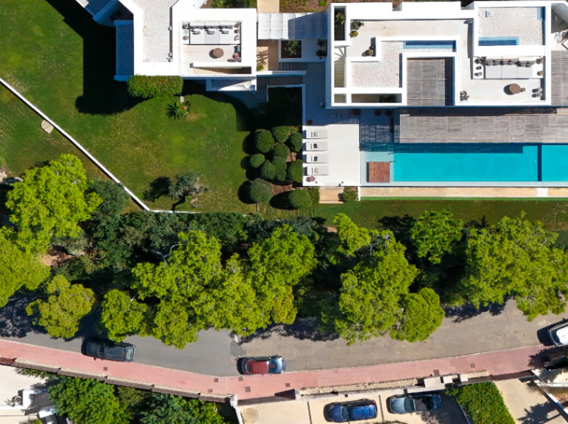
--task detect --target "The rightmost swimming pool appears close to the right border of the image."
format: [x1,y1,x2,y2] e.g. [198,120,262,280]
[360,143,568,187]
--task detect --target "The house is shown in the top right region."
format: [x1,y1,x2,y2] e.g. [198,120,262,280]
[323,0,568,144]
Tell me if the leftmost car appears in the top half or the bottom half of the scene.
bottom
